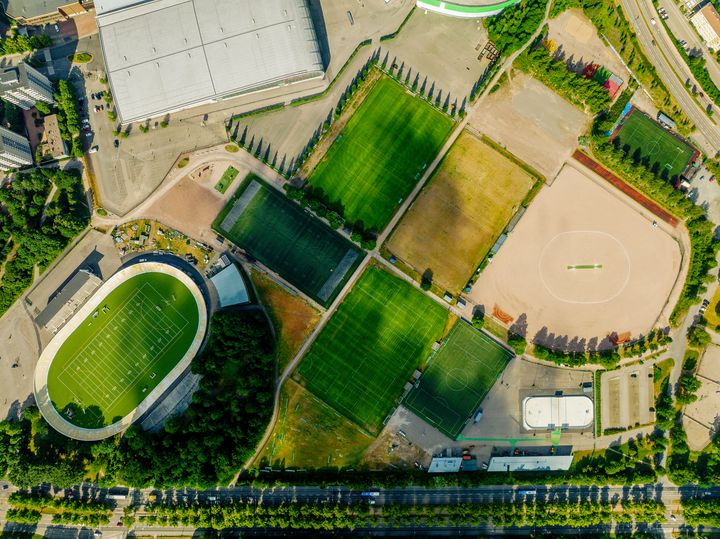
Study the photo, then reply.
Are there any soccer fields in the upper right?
Yes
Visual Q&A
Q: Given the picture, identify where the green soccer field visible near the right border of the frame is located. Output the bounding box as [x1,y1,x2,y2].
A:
[612,105,702,183]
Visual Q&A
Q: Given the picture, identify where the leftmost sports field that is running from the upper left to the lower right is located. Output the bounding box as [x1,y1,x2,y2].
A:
[211,172,366,309]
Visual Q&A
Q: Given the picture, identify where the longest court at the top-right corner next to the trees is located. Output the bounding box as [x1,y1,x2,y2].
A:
[584,62,622,97]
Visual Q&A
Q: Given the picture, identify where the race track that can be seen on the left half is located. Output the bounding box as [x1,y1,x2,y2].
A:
[33,261,209,441]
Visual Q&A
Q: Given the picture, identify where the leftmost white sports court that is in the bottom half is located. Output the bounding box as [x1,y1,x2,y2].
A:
[519,388,598,434]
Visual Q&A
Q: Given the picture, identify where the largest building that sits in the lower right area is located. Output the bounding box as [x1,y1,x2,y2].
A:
[486,453,574,472]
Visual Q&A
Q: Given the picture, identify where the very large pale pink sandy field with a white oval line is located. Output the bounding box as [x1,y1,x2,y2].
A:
[470,163,682,352]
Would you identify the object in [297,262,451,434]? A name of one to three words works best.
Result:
soccer field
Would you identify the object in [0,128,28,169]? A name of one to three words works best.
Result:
building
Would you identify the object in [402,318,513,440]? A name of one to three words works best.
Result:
soccer field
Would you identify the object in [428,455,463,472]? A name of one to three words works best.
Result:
building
